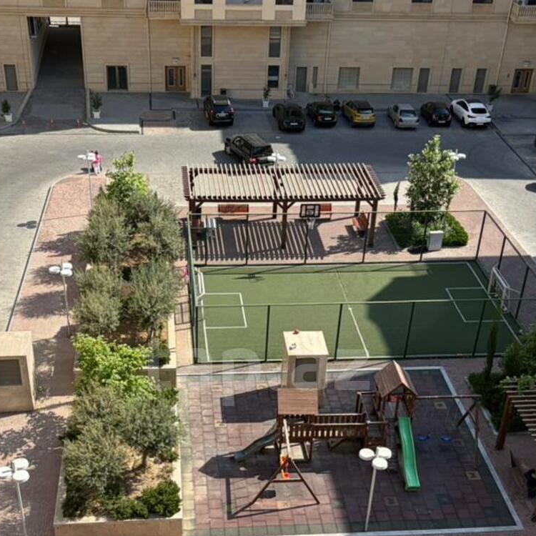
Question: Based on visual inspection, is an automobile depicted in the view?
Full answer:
Yes, there's an automobile down there.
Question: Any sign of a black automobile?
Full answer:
Yes, I can see a black automobile in this picture.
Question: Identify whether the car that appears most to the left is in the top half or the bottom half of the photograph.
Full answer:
The top half of the photo is where the car that appears most to the left is.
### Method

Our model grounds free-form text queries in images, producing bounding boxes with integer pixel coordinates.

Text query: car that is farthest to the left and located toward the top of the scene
[205,94,234,123]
